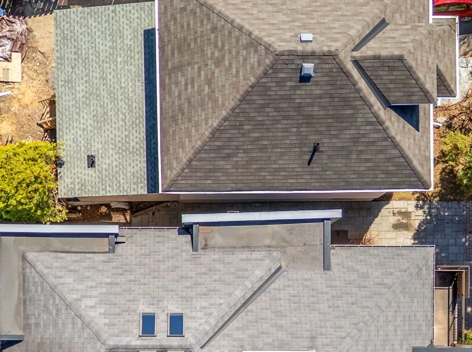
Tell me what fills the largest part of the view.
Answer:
buildings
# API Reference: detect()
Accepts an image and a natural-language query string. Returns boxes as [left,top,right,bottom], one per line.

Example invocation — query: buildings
[0,209,472,352]
[153,0,460,200]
